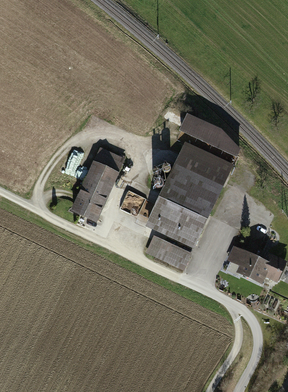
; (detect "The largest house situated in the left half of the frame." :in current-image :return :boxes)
[68,160,118,222]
